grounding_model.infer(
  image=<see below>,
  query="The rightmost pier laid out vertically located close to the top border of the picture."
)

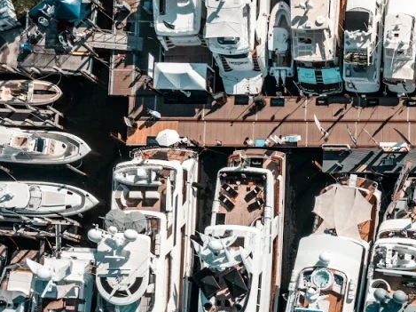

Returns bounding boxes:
[109,0,154,95]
